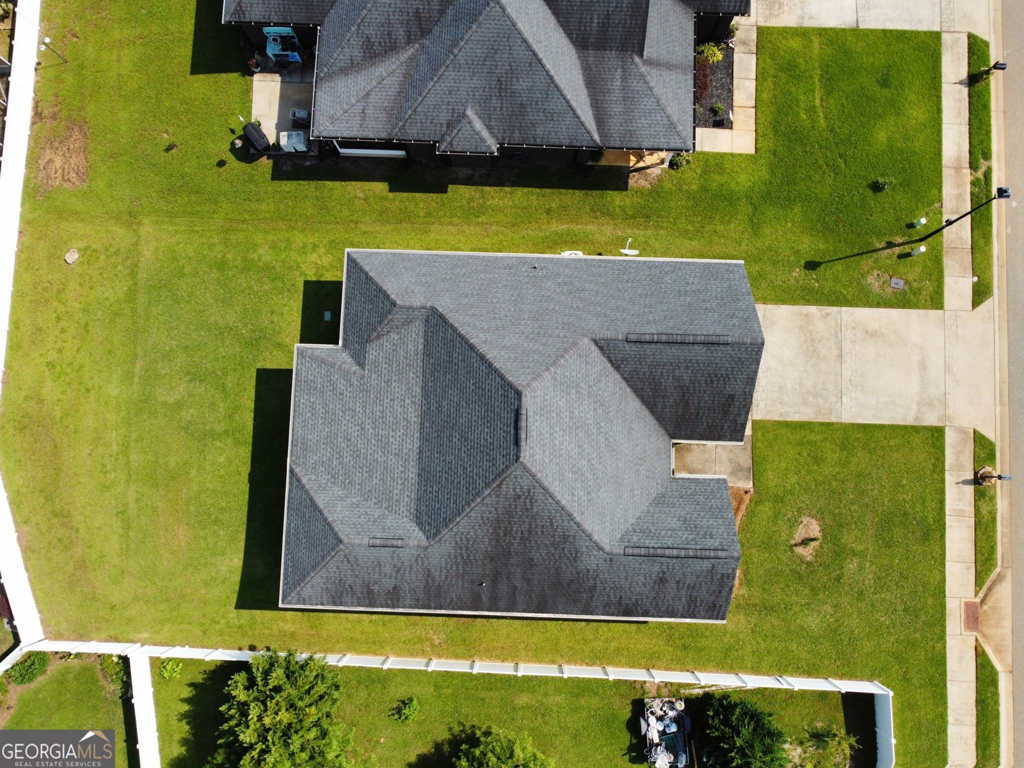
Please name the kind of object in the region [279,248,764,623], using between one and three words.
house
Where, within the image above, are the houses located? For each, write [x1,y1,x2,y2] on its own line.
[222,0,753,168]
[279,248,764,623]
